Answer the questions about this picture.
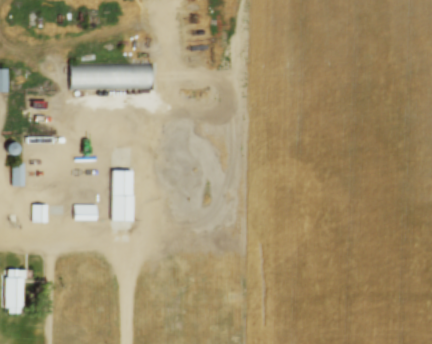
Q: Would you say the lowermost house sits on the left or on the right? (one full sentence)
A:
The lowermost house is on the left side of the image.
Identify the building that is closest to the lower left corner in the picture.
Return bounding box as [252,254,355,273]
[6,270,27,314]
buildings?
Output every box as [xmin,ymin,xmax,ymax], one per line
[0,68,8,92]
[32,205,48,224]
[74,205,98,222]
[12,164,24,186]
[70,66,154,90]
[6,270,27,314]
[111,170,134,221]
